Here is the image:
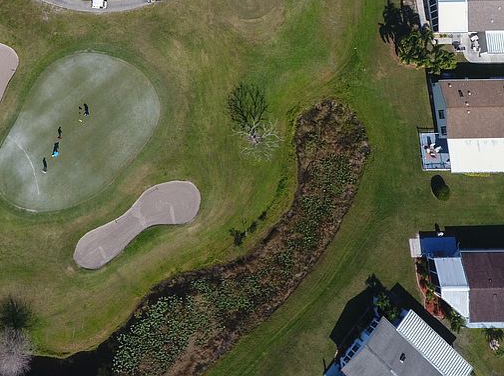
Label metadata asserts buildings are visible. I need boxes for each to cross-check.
[318,305,474,376]
[422,0,504,55]
[422,247,504,344]
[421,79,504,173]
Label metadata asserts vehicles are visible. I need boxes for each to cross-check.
[90,0,109,10]
[143,0,161,6]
